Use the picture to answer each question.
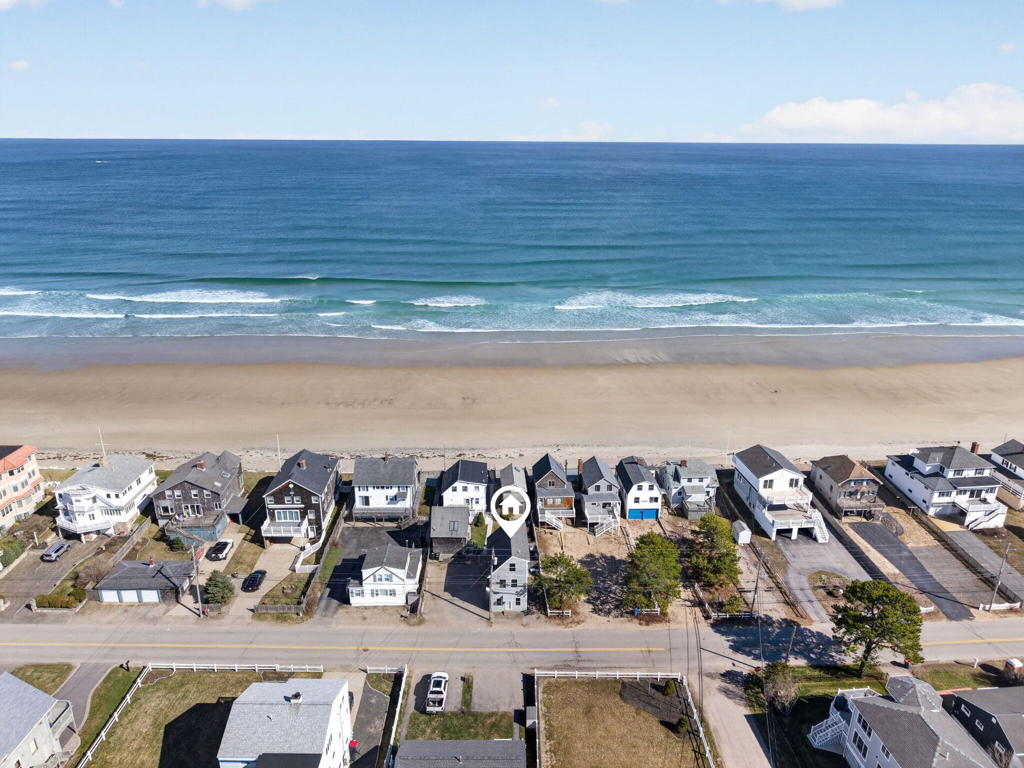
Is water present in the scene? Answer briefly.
Yes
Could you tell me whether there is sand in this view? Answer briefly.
Yes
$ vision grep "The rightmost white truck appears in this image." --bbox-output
[425,669,450,713]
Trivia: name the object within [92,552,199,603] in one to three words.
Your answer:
building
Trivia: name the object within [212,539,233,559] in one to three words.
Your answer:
car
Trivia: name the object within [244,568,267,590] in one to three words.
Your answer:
car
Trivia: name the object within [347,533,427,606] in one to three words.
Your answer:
house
